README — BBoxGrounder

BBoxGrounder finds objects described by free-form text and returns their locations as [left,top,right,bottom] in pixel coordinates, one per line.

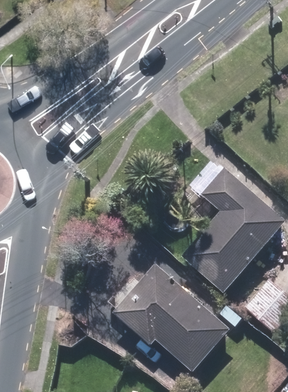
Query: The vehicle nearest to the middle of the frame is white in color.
[68,123,99,154]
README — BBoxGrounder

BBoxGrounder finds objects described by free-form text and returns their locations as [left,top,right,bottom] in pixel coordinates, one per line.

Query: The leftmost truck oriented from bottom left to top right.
[8,85,41,112]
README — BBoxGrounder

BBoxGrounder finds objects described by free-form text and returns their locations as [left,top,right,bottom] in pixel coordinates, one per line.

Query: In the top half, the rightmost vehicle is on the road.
[134,44,166,70]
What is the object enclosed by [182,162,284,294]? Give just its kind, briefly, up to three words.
house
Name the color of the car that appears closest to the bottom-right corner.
blue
